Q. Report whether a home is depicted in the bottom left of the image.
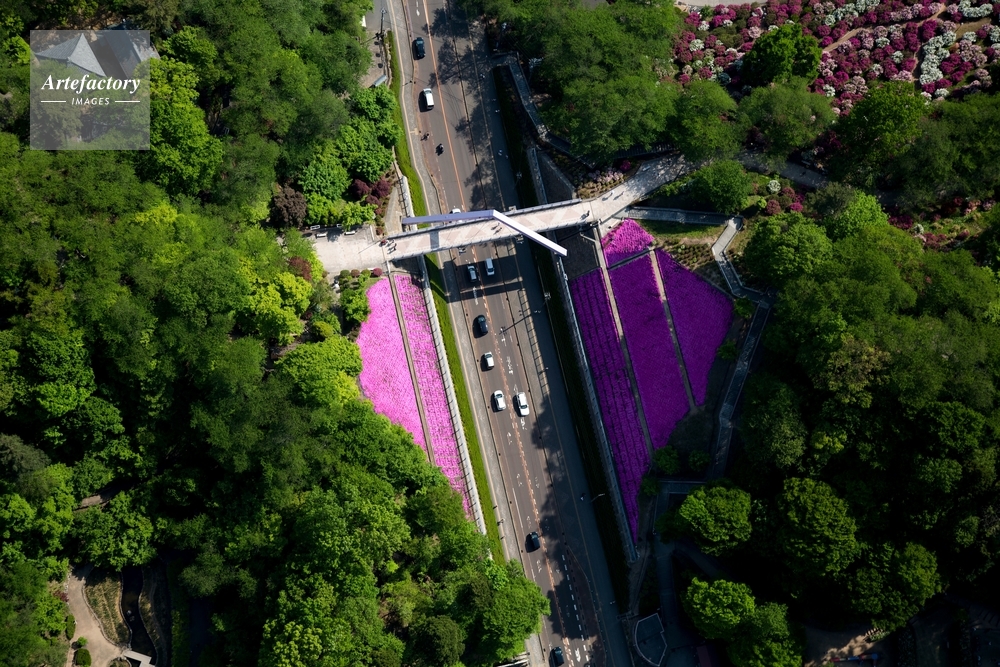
No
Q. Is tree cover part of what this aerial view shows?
Yes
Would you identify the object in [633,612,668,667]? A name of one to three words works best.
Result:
shed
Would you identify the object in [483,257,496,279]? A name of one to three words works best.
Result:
vehicle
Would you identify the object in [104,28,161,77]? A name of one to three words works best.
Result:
house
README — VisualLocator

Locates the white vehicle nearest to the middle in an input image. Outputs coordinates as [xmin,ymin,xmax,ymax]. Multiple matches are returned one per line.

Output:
[483,351,496,372]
